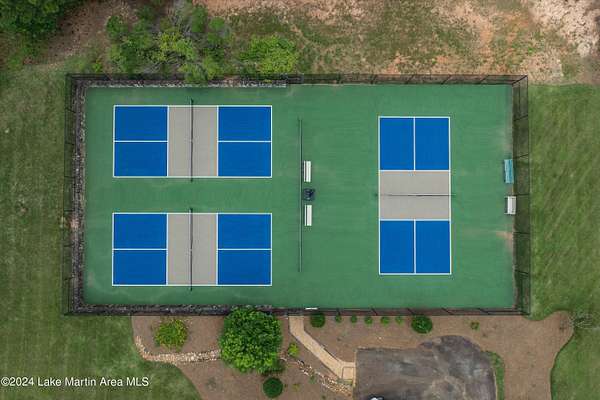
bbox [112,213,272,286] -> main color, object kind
blue sports court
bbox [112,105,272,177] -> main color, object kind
blue sports court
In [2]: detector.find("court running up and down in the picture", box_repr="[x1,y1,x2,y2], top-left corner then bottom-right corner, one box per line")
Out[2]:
[379,116,452,275]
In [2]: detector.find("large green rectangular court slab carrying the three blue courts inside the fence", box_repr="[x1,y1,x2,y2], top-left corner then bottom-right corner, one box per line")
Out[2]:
[84,84,513,307]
